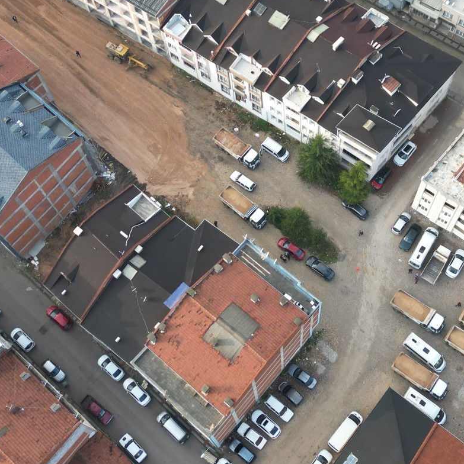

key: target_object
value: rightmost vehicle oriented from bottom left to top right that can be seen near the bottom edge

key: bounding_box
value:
[326,408,365,452]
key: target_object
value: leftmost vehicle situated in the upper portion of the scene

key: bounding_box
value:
[105,40,152,73]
